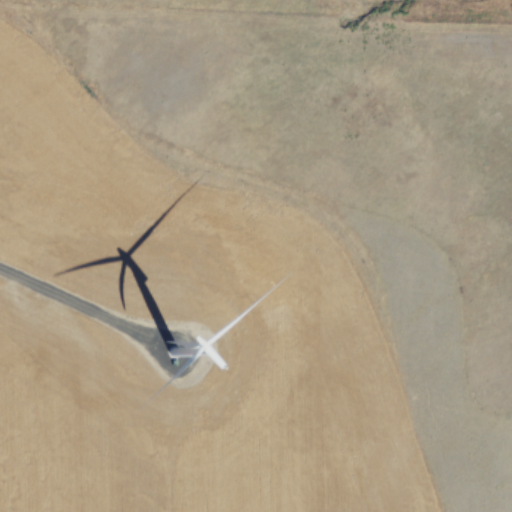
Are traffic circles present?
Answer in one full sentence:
No, the frame has no traffic circle in it.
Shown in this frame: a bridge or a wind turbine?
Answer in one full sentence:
Of the two, only a wind turbine appears.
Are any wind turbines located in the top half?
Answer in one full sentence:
No, no wind turbine is visible in the top half.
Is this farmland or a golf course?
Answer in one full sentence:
The area seen from above is farmland.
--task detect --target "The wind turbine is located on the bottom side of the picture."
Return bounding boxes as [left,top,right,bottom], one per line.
[148,276,290,406]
